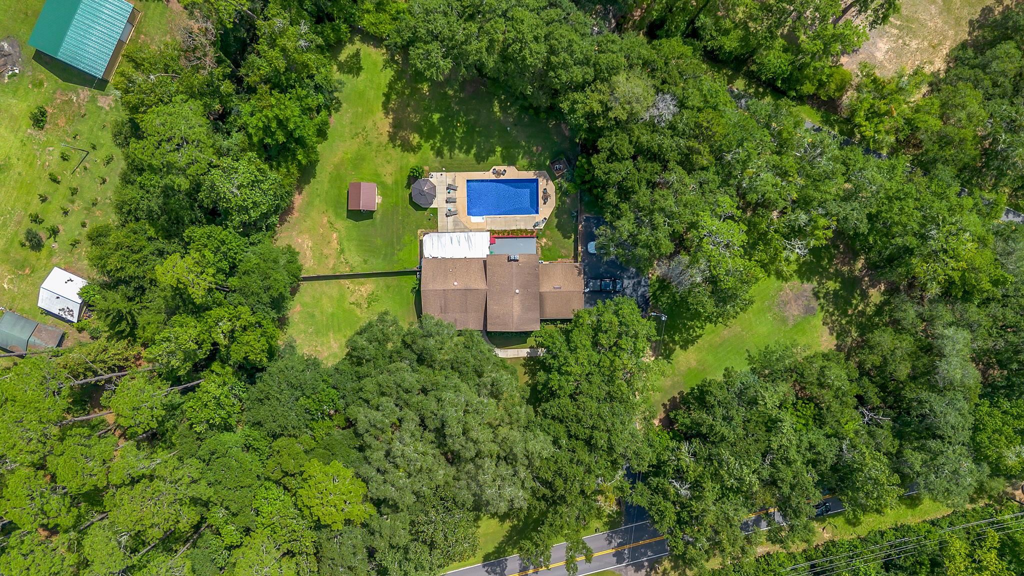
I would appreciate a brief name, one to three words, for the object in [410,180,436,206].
gazebo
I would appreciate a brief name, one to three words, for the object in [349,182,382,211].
shed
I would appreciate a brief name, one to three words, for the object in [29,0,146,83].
barn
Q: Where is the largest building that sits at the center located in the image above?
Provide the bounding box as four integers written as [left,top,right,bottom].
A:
[421,254,584,332]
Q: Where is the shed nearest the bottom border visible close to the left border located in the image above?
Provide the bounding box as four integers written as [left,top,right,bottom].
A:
[0,310,70,354]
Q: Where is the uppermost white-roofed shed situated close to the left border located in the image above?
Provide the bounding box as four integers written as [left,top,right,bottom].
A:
[38,267,95,323]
